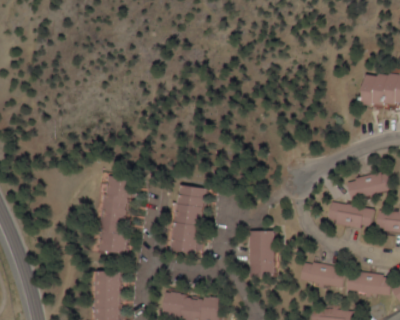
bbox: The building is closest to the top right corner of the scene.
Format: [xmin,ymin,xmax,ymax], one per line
[364,74,400,110]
